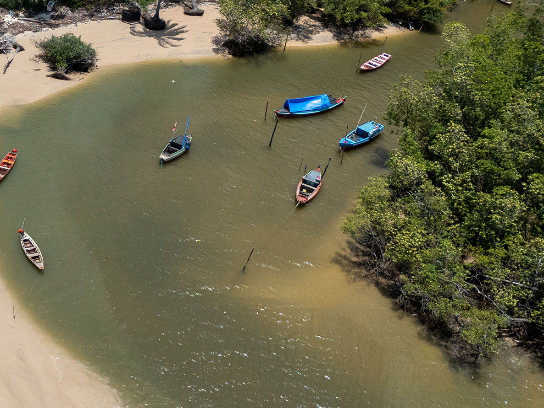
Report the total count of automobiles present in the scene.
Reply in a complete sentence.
No automobiles are visible.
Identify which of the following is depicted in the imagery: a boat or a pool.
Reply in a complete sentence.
The one in the frame is a boat.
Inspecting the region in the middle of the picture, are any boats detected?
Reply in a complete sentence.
Yes, a boat shows up in the middle of the picture.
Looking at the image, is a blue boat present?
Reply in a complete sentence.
Yes, this view includes a blue boat.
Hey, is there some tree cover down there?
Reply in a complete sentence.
Yes, there's tree cover in this view.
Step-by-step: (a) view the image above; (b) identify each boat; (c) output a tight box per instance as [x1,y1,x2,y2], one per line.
[290,144,324,212]
[269,93,349,117]
[0,145,17,181]
[332,108,386,149]
[12,212,45,274]
[499,0,514,6]
[359,51,393,72]
[158,117,196,164]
